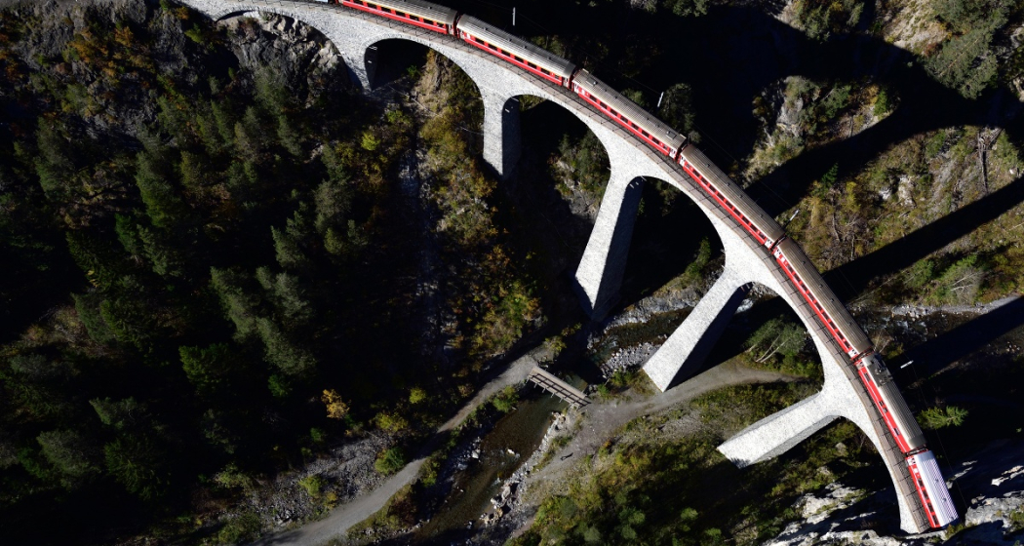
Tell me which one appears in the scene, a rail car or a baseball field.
rail car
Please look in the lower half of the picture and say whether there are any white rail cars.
Yes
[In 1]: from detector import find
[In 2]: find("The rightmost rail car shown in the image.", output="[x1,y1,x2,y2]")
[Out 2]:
[904,452,960,532]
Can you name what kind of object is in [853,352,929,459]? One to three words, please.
rail car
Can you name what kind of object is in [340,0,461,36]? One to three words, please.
rail car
